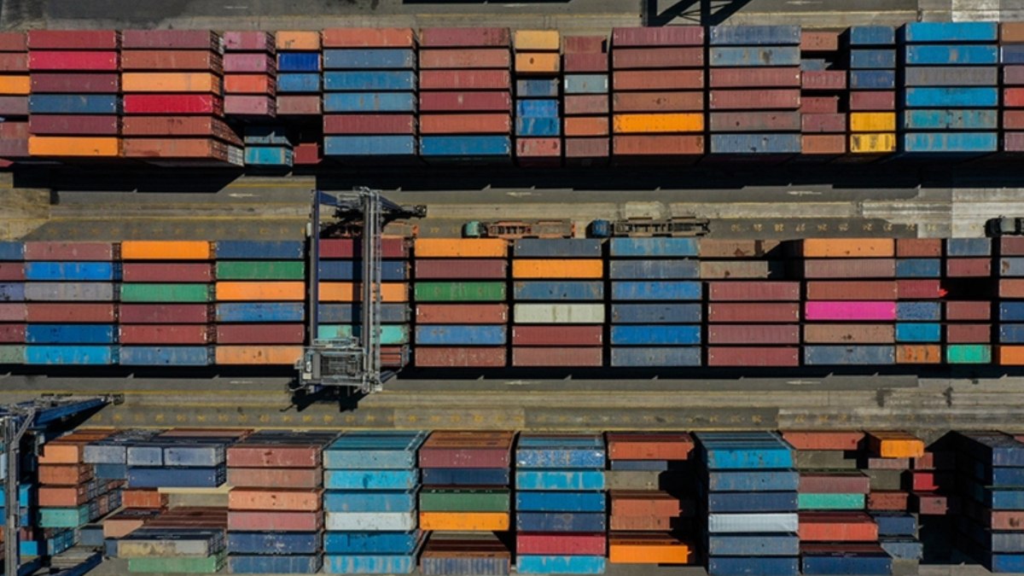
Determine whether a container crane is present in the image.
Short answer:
Yes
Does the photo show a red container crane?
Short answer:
No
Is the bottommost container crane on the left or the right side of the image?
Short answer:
left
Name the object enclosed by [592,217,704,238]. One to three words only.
truck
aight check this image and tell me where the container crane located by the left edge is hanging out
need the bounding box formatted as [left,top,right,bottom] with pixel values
[0,392,121,576]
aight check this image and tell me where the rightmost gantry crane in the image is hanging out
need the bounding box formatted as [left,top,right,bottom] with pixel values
[294,183,430,396]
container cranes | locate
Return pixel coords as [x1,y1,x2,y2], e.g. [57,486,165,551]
[294,183,430,396]
[0,392,121,576]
